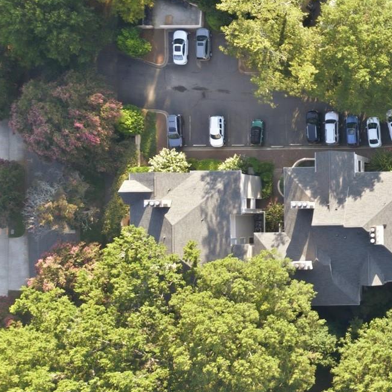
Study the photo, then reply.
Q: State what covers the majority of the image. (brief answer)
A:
trees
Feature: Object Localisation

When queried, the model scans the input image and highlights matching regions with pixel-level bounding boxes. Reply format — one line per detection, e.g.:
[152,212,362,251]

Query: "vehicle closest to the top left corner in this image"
[171,30,189,65]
